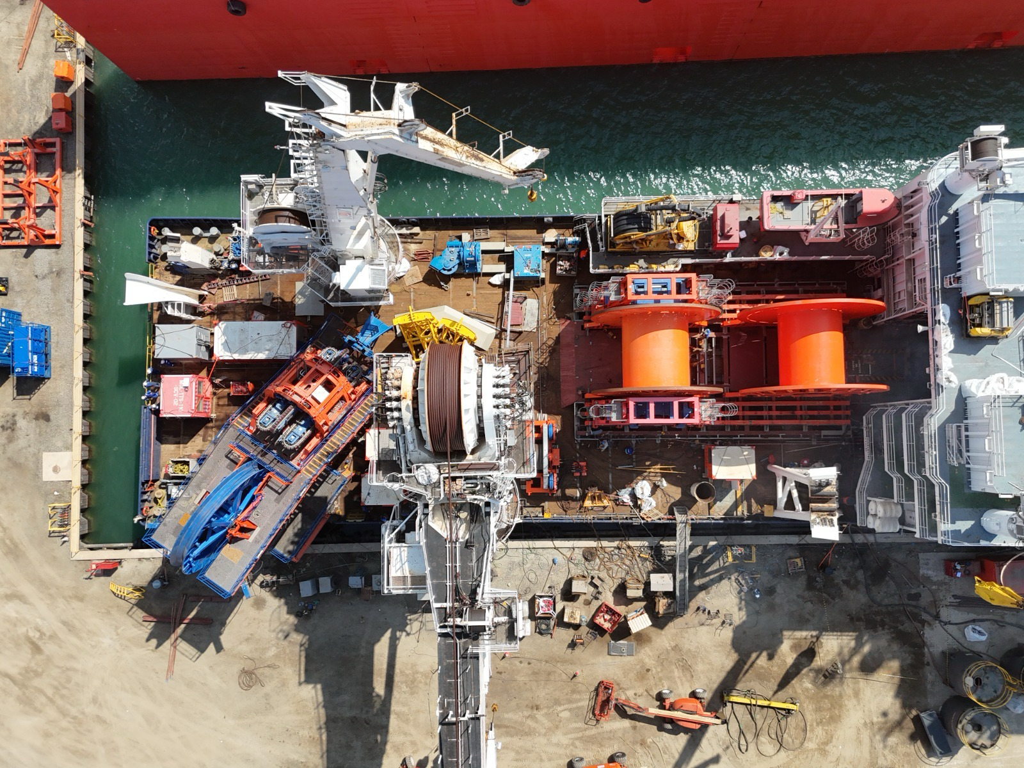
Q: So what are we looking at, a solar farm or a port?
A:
port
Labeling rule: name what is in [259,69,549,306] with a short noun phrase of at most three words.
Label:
crane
